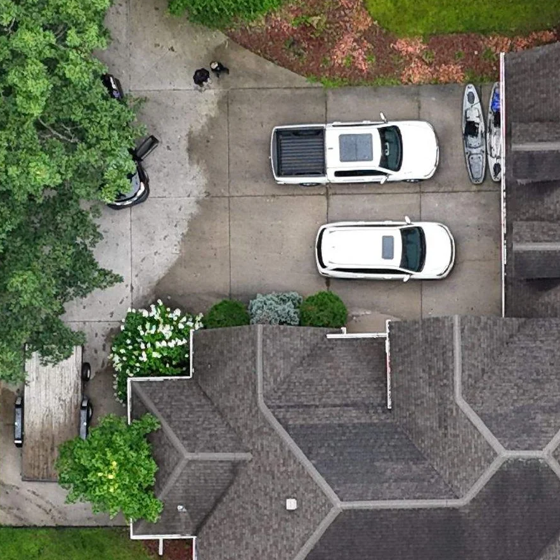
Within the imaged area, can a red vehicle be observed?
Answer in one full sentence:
No, there appears to be no red vehicle in this shot.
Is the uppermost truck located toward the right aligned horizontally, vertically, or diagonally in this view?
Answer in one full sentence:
Seen from above, the uppermost truck located toward the right lies horizontally.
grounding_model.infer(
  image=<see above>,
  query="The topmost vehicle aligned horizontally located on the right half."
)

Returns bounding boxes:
[271,113,441,190]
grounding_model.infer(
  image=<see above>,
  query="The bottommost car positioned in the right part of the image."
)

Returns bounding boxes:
[316,216,456,286]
